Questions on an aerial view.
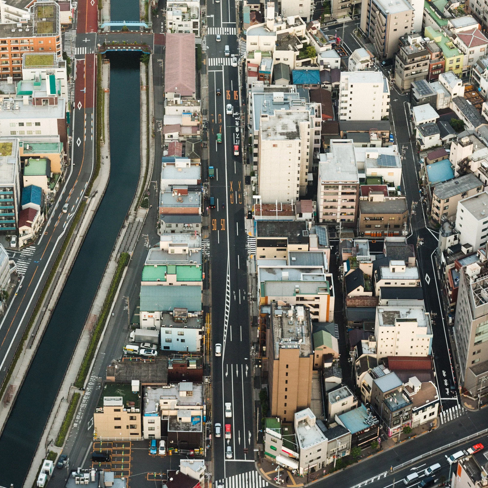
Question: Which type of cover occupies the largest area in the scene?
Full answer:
The bulk of the photo consists of buildings.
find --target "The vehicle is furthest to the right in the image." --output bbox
[466,443,486,455]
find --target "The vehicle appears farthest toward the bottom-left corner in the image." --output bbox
[55,453,69,470]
